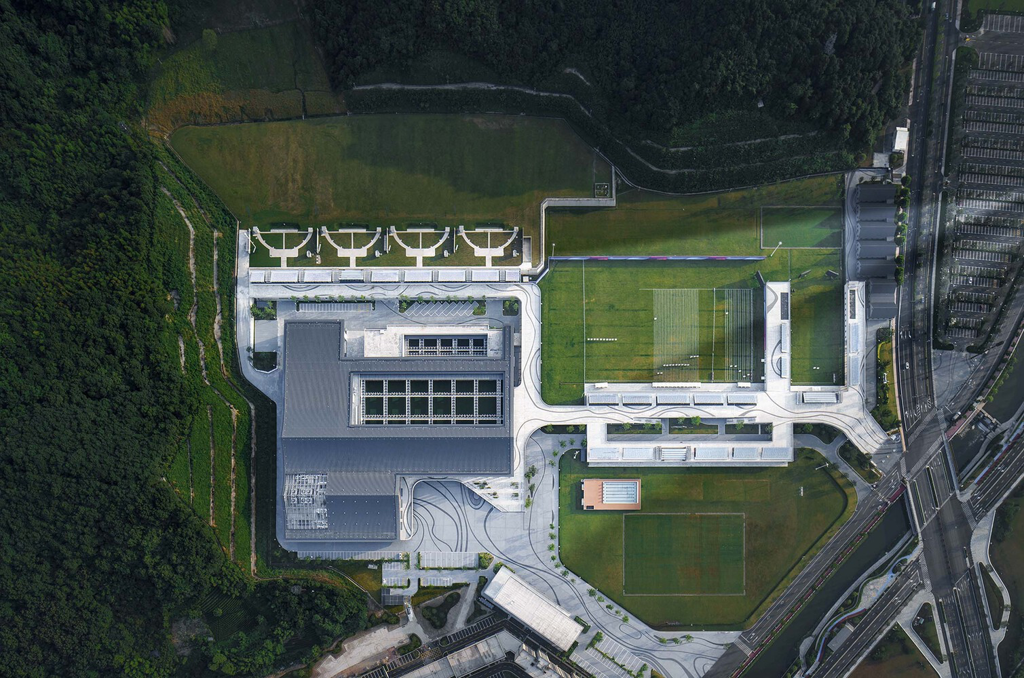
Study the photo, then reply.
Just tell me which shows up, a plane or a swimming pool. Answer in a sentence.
There is a swimming pool in the scene.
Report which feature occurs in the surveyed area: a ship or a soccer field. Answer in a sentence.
There is a soccer field in the scene.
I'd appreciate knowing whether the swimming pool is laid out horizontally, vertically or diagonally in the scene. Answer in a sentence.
What the image shows is the swimming pool lying horizontally.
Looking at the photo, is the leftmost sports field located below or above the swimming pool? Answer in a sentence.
The position of the leftmost sports field is above the swimming pool.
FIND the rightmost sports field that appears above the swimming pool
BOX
[542,173,845,403]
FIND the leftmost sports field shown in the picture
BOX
[171,112,613,266]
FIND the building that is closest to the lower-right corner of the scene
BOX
[825,623,854,652]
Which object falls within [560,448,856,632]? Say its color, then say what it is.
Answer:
green sports field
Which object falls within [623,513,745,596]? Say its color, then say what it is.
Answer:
green soccer field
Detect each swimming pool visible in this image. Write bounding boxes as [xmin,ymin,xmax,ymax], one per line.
[581,479,641,510]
